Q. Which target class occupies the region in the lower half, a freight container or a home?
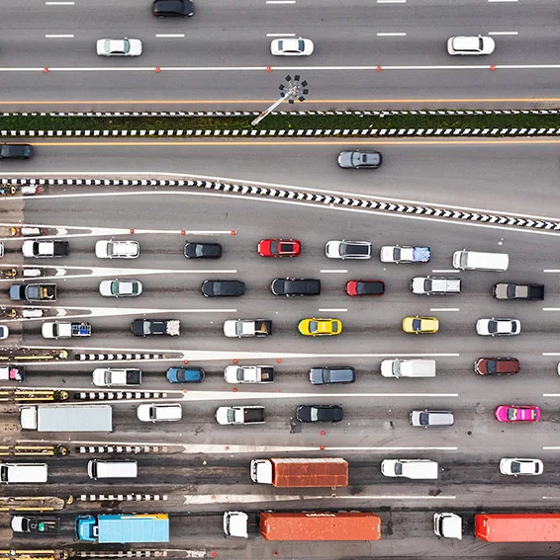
freight container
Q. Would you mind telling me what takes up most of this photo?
paved ground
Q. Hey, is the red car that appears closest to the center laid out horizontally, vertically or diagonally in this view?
horizontally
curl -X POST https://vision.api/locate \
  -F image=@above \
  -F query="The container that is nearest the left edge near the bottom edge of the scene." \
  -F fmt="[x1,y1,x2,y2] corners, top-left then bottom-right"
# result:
[260,514,381,540]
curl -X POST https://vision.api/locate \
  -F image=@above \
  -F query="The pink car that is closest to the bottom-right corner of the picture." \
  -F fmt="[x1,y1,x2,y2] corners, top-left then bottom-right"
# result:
[492,403,540,423]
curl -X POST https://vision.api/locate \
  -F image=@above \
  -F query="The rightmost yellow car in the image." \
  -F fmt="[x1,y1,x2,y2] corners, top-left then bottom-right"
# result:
[400,315,439,334]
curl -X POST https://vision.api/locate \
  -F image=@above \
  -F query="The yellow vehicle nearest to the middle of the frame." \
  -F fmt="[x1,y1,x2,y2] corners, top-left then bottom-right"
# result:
[296,318,343,336]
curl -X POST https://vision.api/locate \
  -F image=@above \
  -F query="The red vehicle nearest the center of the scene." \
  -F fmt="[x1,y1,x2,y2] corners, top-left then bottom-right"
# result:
[257,238,300,257]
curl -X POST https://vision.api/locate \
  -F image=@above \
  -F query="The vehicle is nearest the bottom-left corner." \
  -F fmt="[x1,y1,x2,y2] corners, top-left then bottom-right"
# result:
[10,514,61,534]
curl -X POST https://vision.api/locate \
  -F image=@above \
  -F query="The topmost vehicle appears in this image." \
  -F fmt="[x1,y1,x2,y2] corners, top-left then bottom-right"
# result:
[152,0,195,19]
